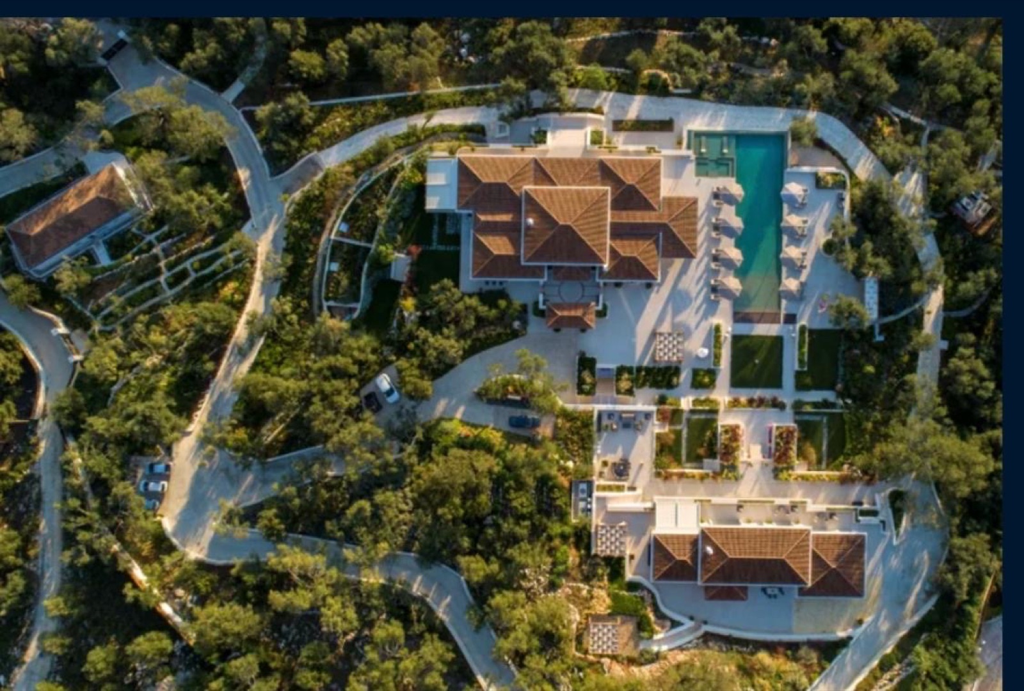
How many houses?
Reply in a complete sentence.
In total, there are 3 houses in the scene.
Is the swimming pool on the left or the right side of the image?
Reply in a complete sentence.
The swimming pool sits on the right side.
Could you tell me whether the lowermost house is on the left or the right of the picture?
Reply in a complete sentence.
The lowermost house appears in the right half of the scene.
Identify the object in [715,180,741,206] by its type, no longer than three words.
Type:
umbrella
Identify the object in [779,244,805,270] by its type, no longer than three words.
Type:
umbrella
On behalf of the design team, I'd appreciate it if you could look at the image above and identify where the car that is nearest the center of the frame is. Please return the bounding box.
[509,415,540,429]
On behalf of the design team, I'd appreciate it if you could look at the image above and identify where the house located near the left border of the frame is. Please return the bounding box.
[5,159,168,287]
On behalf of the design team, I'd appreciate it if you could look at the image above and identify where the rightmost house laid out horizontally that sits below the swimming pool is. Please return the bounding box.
[652,498,866,601]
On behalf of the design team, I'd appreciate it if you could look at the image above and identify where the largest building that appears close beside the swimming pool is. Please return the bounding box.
[426,155,698,310]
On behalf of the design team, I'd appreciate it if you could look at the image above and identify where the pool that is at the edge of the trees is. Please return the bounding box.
[690,128,796,324]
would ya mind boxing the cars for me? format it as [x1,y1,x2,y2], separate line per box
[147,462,174,475]
[509,415,540,429]
[143,481,168,492]
[361,389,379,412]
[374,372,400,402]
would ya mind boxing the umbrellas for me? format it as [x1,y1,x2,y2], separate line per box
[715,244,740,270]
[779,244,805,270]
[715,180,741,206]
[780,181,806,207]
[714,275,740,301]
[779,275,805,301]
[715,212,741,238]
[779,212,806,237]
[697,346,709,358]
